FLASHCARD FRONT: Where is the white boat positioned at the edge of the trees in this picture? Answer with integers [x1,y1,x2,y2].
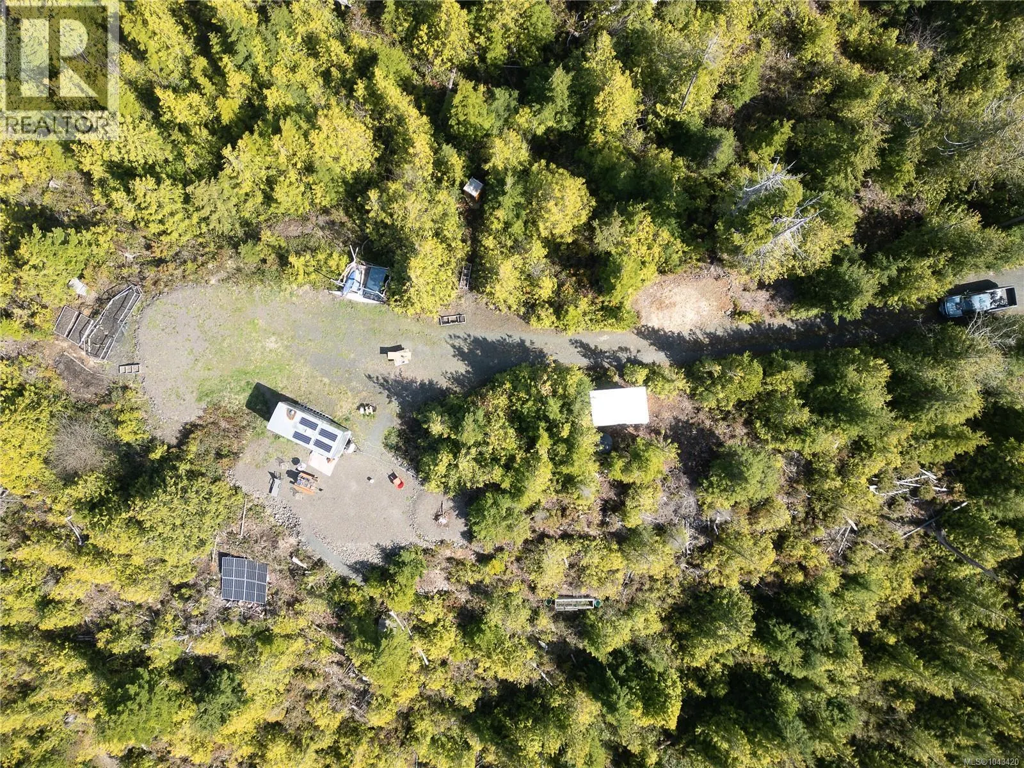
[325,267,387,306]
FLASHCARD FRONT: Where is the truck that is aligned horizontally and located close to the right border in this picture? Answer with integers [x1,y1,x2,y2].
[935,283,1019,320]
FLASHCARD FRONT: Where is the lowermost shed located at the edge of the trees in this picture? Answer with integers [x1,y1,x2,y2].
[590,387,649,427]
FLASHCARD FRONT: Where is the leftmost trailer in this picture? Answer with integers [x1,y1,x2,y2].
[269,401,365,457]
